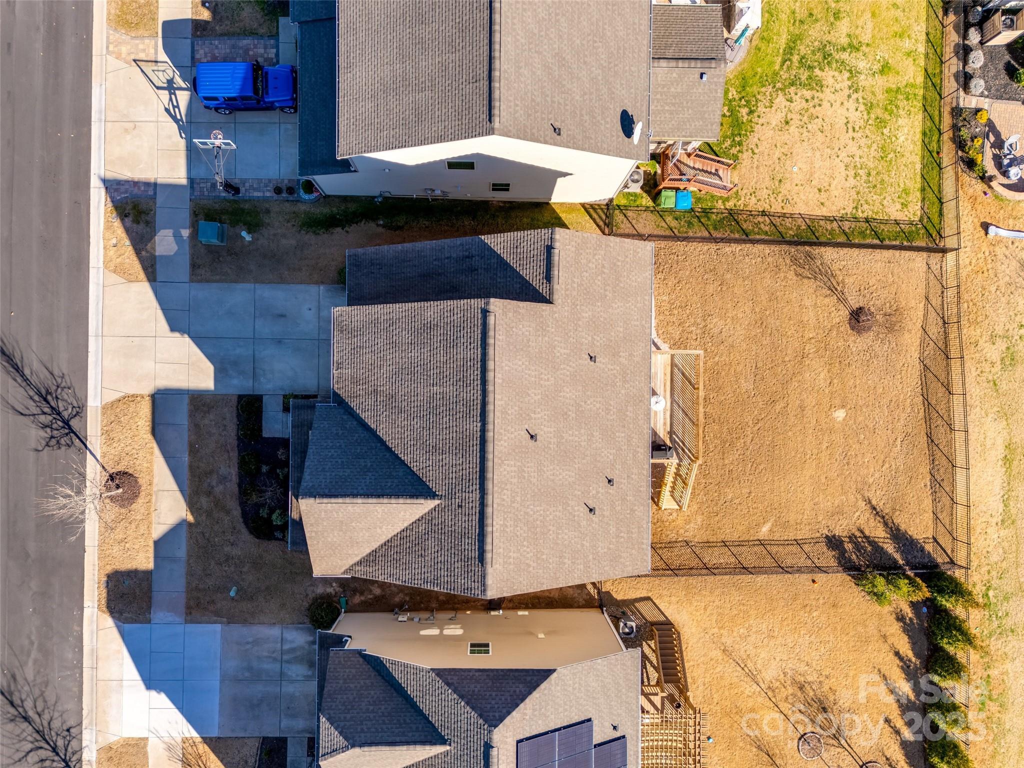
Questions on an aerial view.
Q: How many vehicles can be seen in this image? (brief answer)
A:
1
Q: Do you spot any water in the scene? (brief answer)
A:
No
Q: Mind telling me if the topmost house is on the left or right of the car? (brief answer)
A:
to the right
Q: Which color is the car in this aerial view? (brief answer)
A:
blue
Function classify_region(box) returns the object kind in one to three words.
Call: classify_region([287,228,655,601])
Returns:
house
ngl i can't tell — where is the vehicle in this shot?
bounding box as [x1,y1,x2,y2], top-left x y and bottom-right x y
[191,61,296,116]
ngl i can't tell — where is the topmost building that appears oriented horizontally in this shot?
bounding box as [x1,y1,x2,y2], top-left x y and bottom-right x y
[288,0,727,205]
